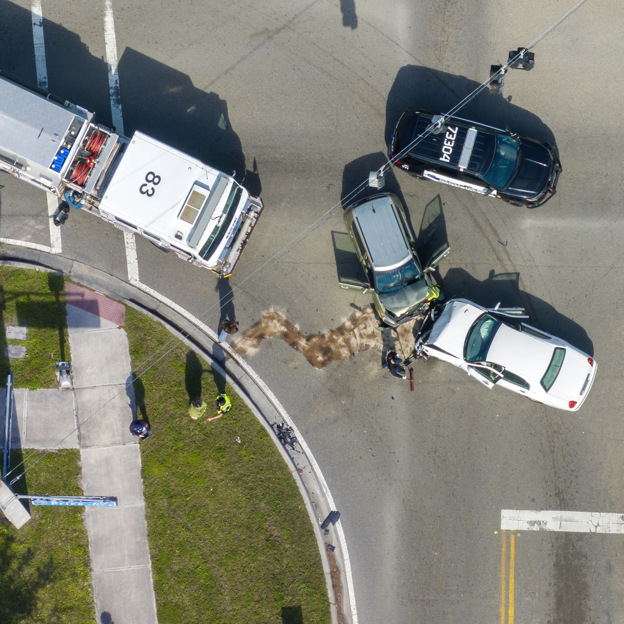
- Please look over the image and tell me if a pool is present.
No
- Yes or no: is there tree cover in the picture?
No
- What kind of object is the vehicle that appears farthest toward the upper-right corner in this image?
car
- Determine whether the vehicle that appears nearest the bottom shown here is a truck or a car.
car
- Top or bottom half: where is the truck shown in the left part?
top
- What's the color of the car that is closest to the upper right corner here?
black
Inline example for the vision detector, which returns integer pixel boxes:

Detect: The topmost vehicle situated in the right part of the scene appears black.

[387,105,563,212]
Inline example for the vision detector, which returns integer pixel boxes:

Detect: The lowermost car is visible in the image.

[418,295,601,410]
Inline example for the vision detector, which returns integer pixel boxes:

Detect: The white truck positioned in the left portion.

[0,68,265,279]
